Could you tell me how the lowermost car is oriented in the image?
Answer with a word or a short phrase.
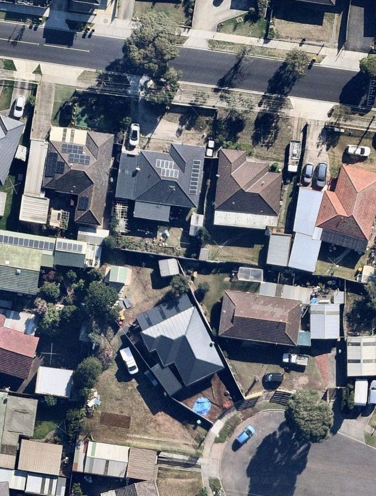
diagonally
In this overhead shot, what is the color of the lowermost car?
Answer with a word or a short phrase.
blue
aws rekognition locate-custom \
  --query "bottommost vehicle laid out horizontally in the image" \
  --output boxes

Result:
[260,373,286,387]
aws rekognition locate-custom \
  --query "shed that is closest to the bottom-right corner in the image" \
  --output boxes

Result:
[347,337,376,377]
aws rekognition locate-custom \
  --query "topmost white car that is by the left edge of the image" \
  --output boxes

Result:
[12,93,26,119]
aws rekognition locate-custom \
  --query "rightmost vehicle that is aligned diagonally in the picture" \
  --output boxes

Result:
[234,424,257,445]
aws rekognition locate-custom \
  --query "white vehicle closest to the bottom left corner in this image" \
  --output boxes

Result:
[120,346,140,375]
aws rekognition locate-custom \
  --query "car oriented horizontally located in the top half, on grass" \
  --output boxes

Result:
[346,144,373,157]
